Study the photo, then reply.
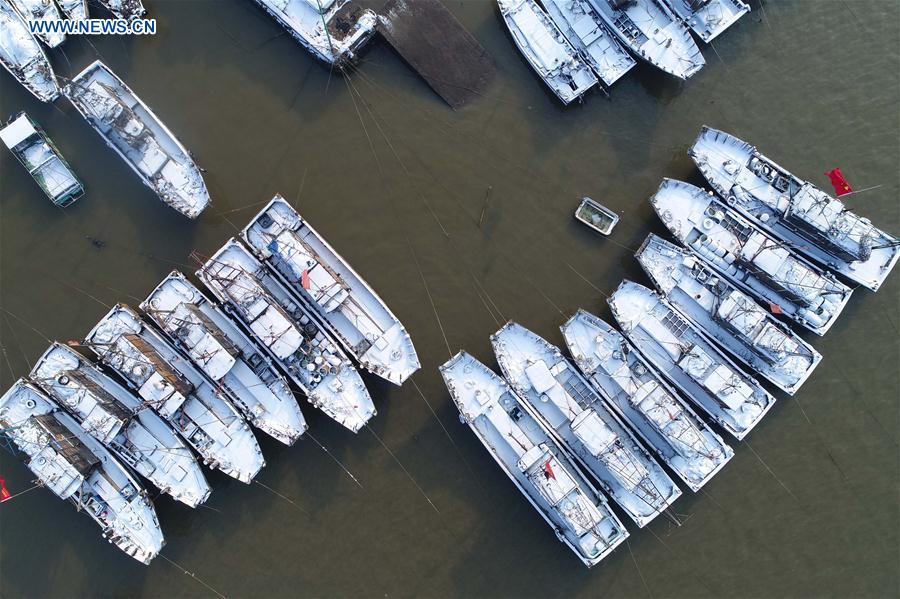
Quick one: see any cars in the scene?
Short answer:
No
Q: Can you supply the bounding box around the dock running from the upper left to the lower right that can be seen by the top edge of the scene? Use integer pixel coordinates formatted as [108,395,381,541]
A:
[365,0,493,113]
